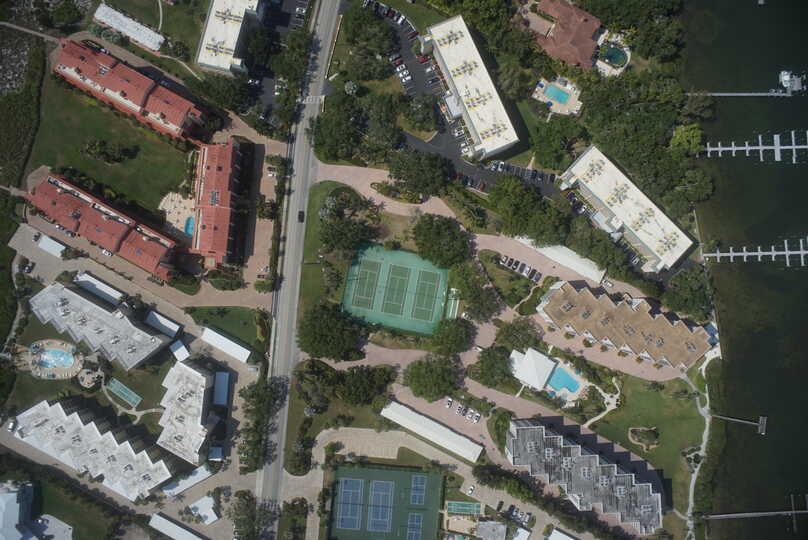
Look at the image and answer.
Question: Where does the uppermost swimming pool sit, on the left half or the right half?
right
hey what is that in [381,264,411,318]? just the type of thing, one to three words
tennis court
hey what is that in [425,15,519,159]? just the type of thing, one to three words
building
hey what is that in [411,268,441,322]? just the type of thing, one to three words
tennis court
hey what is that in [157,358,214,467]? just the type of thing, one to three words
building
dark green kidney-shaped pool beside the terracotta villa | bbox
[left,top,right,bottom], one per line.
[599,40,627,66]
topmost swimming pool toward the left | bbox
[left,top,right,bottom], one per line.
[159,192,196,250]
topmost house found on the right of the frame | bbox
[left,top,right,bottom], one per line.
[533,0,602,71]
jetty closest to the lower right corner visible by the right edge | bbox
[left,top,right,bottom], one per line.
[699,493,808,533]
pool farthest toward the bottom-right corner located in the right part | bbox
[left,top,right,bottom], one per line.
[545,361,590,403]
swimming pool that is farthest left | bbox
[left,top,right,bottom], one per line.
[30,339,83,380]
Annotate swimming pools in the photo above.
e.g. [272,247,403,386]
[30,339,83,380]
[545,361,590,403]
[159,192,196,250]
[599,40,627,66]
[532,77,583,114]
